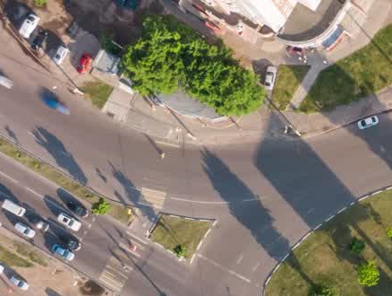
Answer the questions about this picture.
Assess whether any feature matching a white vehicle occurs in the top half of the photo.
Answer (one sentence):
Yes, I can see a white vehicle in the top half of the photo.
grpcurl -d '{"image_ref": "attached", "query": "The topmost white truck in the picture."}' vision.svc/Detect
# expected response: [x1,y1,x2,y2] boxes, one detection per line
[15,11,43,41]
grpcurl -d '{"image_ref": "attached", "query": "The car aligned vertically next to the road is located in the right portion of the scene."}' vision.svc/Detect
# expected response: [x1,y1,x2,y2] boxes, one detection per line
[263,66,276,90]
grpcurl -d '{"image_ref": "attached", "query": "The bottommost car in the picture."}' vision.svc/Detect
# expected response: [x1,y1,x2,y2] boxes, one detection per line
[7,274,31,292]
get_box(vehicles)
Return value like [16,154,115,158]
[44,94,67,112]
[76,52,93,75]
[52,243,75,260]
[0,197,30,218]
[63,198,88,216]
[286,46,307,56]
[15,11,43,41]
[263,66,276,90]
[116,0,140,10]
[0,72,10,84]
[29,28,49,52]
[13,221,38,239]
[7,274,31,292]
[61,233,84,251]
[52,45,70,65]
[57,213,82,230]
[30,216,55,233]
